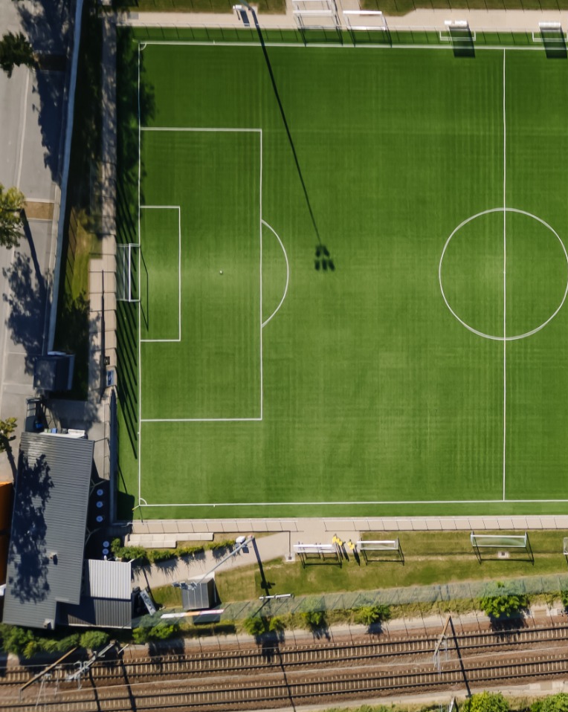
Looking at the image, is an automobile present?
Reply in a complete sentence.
No, I can't see a single automobile in this photo.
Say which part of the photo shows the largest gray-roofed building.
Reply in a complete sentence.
The largest gray-roofed building is in the bottom left part of the image.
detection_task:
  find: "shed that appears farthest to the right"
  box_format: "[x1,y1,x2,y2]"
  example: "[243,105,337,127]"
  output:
[184,576,214,610]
